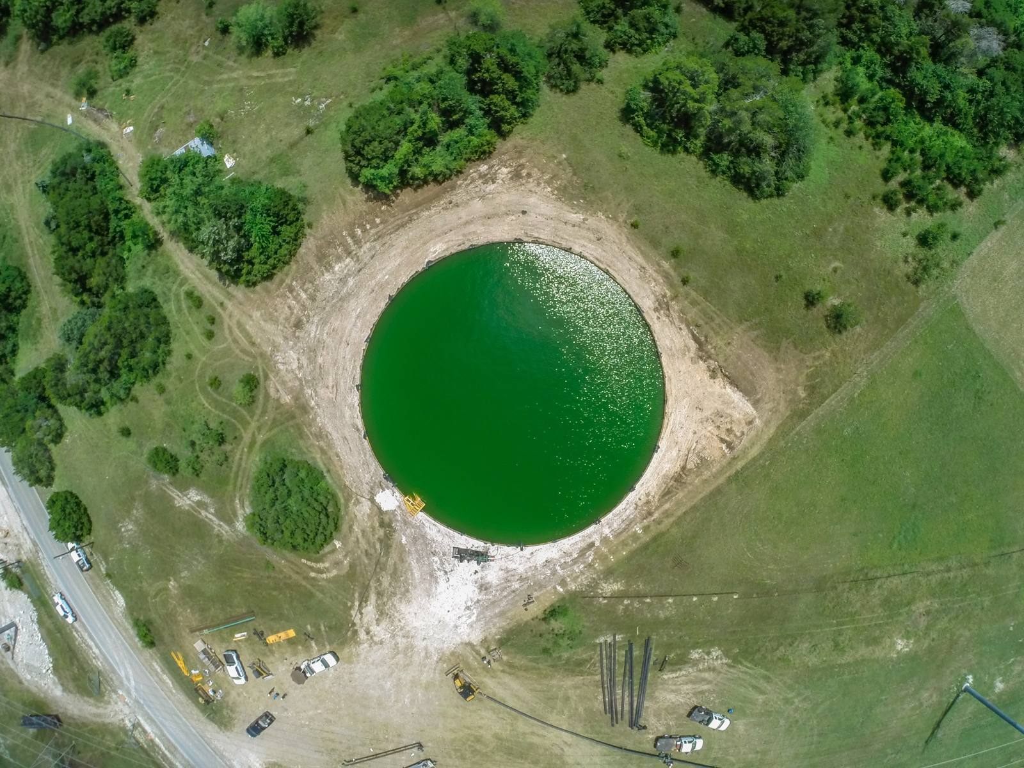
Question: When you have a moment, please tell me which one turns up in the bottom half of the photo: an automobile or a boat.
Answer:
automobile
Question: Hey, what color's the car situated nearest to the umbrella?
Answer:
white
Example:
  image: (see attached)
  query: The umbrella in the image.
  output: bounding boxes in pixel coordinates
[292,668,308,685]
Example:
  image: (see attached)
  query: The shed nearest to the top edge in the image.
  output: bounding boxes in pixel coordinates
[167,137,217,163]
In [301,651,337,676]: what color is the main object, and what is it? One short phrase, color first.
white car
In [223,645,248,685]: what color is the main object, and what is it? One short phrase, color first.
white truck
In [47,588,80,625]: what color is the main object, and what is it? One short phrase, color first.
white truck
